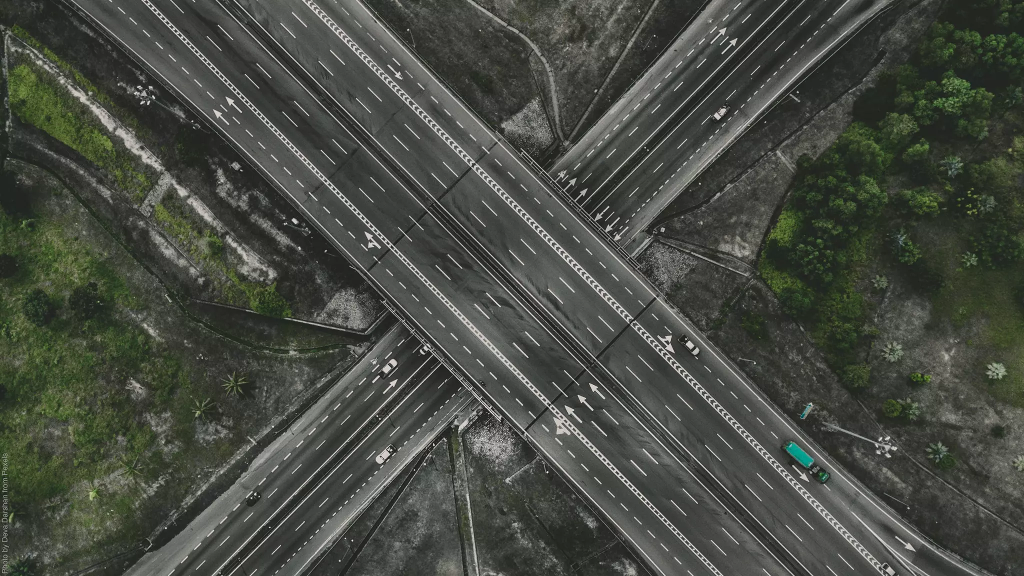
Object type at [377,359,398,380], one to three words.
truck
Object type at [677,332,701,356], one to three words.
truck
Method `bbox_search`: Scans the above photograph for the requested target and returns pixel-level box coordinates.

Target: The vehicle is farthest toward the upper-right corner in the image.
[710,102,733,125]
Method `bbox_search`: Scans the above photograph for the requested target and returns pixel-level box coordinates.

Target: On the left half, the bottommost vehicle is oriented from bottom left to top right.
[245,491,262,507]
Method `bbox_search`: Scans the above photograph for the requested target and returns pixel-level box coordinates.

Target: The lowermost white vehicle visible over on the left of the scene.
[375,442,398,464]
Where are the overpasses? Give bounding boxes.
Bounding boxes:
[357,131,667,442]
